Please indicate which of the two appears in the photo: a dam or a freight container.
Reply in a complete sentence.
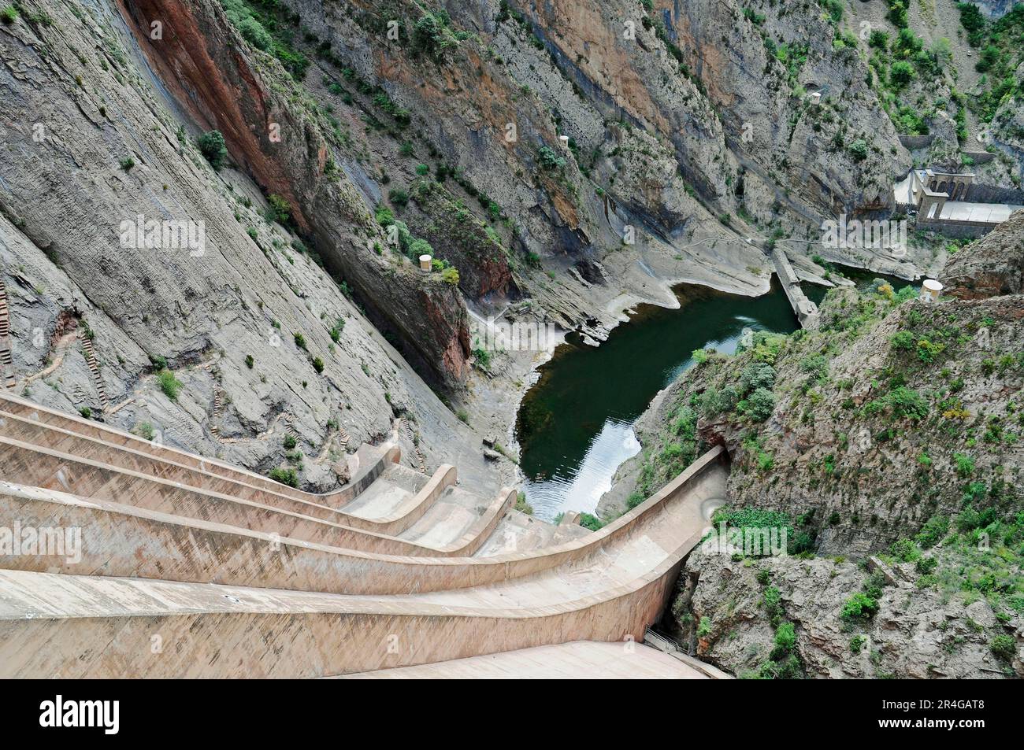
The image shows a dam.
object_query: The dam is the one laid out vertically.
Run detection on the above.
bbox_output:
[772,241,817,321]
